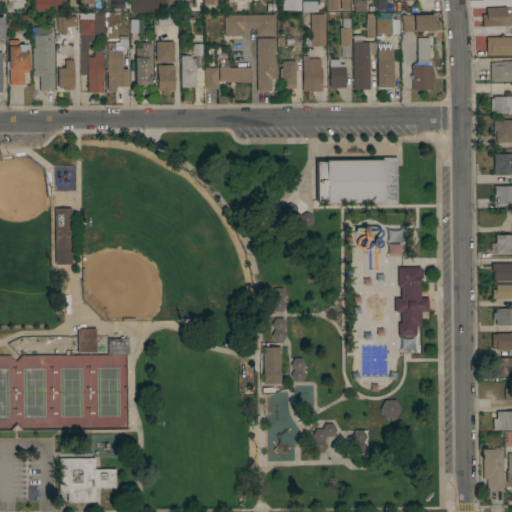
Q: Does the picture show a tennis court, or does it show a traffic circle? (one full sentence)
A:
The one in the frame is a tennis court.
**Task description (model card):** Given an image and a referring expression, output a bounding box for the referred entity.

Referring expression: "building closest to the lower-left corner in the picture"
[60,458,118,503]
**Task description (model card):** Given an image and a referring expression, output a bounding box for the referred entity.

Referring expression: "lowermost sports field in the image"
[138,333,238,506]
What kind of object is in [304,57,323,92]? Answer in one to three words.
house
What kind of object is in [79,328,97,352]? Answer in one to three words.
building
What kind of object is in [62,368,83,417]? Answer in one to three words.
tennis court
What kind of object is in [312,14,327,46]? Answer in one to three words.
house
